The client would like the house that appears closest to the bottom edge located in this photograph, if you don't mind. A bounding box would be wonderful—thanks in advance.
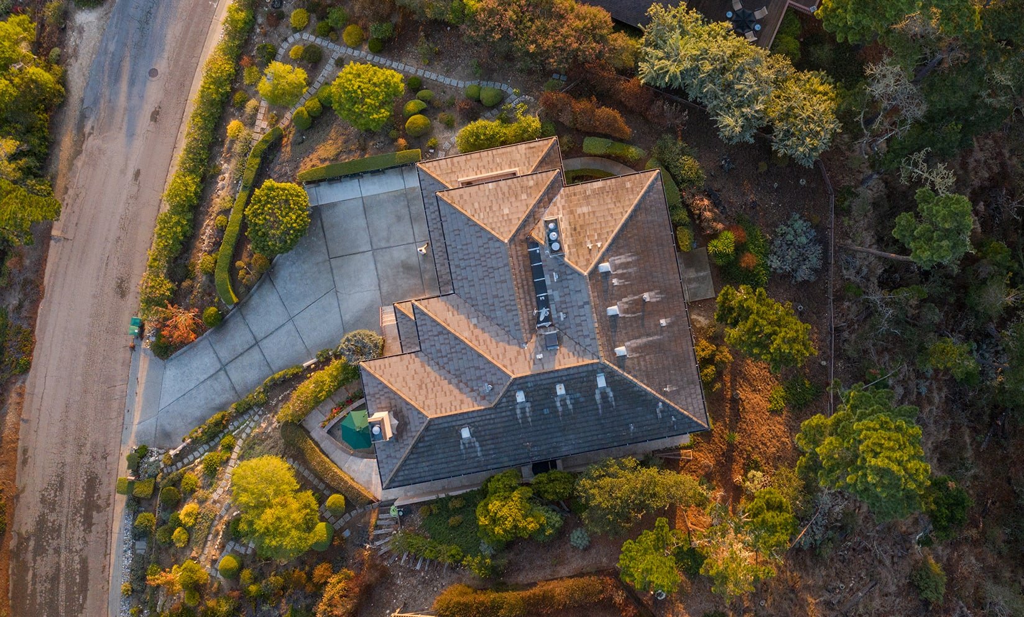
[357,135,711,491]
